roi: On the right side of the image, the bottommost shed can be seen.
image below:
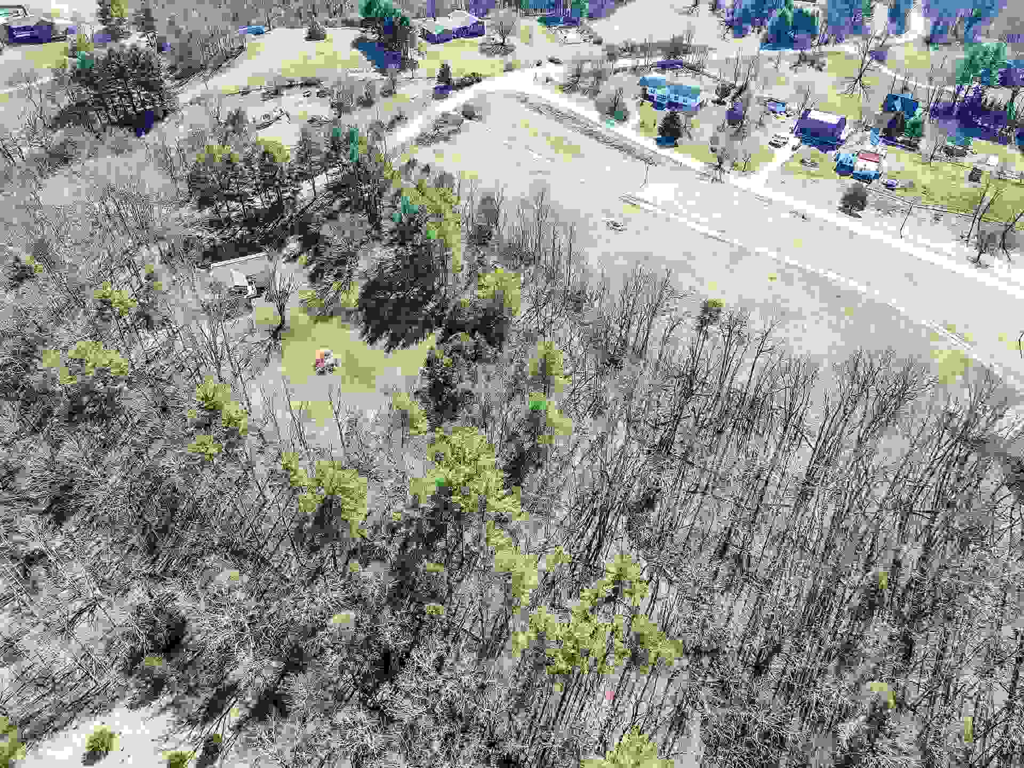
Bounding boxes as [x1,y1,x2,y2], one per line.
[852,156,884,181]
